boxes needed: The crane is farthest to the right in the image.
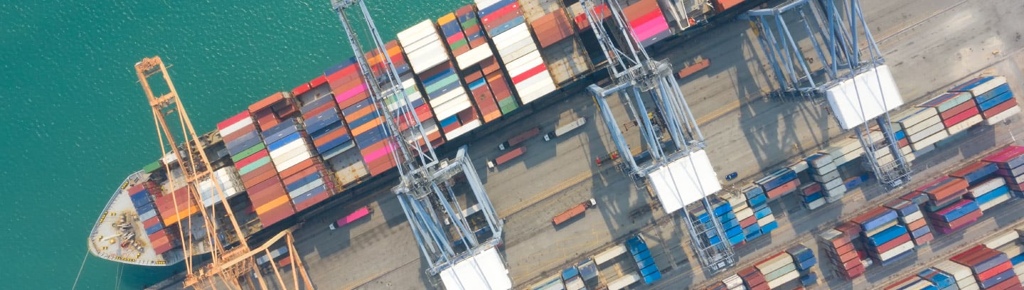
[727,0,916,194]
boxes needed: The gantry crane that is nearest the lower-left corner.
[132,58,351,290]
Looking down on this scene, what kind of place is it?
port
